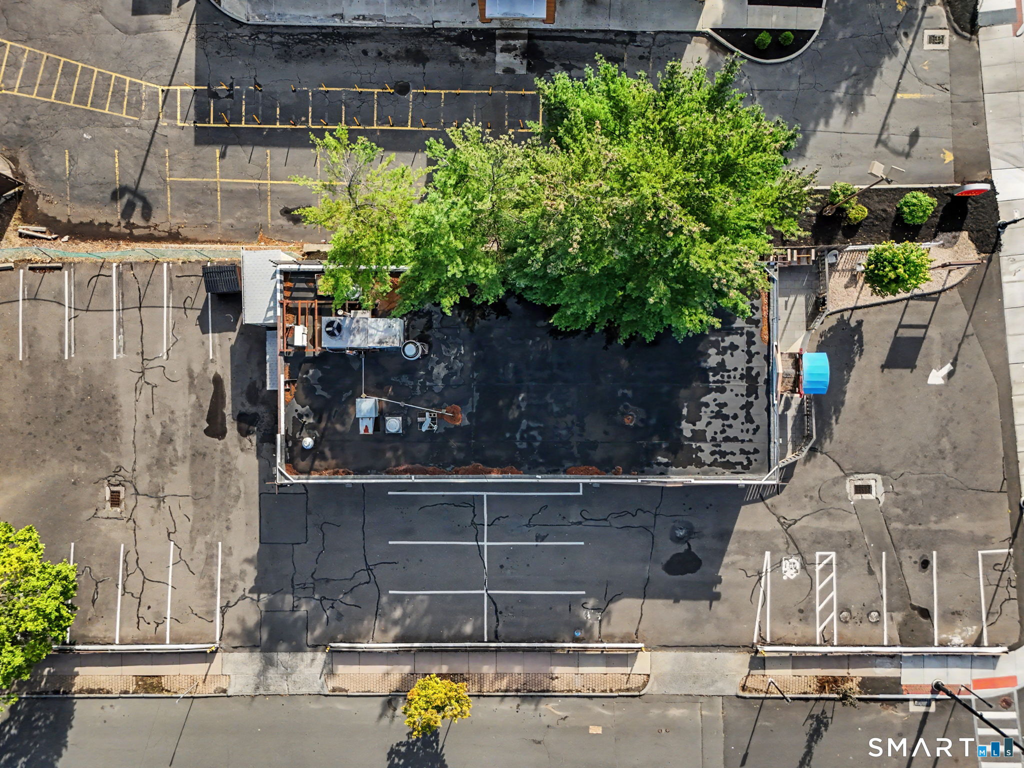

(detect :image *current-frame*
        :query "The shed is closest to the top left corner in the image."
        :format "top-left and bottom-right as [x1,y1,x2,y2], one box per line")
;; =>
[0,172,37,210]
